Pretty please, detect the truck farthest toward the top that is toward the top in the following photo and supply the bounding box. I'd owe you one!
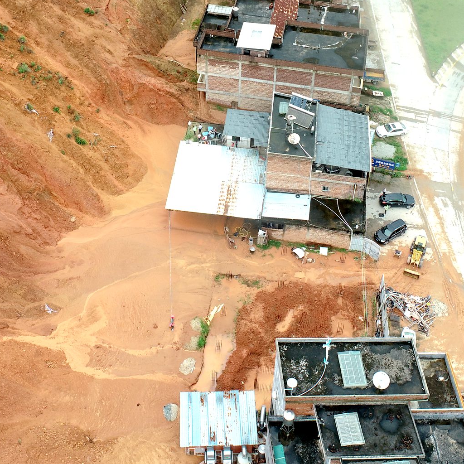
[362,25,394,50]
